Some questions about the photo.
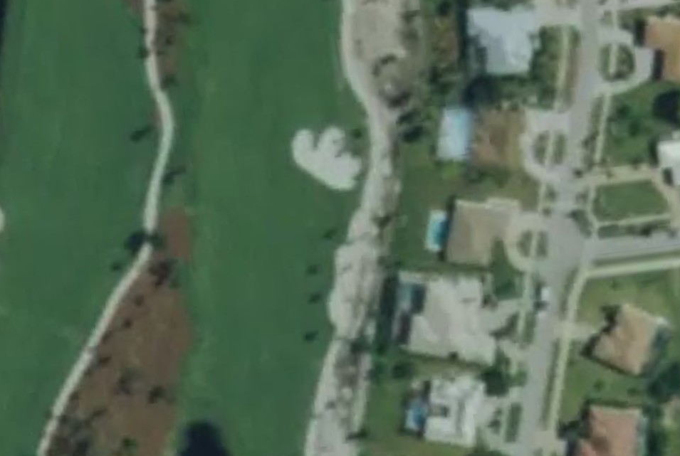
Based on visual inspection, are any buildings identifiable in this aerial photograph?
Yes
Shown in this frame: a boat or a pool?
pool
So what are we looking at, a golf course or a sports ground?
golf course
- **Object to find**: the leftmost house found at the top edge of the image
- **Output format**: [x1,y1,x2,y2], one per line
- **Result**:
[466,6,533,73]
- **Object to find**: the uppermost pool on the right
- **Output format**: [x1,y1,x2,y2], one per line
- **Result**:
[438,108,471,159]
